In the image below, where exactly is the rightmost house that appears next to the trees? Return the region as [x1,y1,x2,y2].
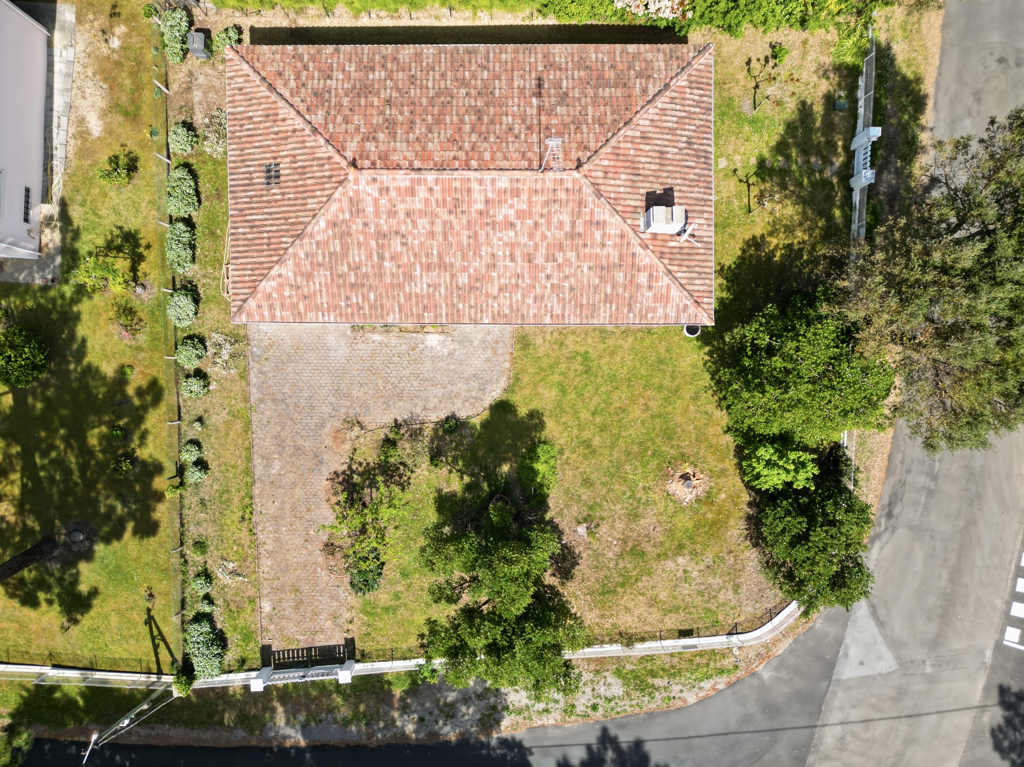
[221,40,718,328]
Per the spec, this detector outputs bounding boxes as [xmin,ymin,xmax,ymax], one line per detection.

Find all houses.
[0,0,52,255]
[221,40,718,328]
